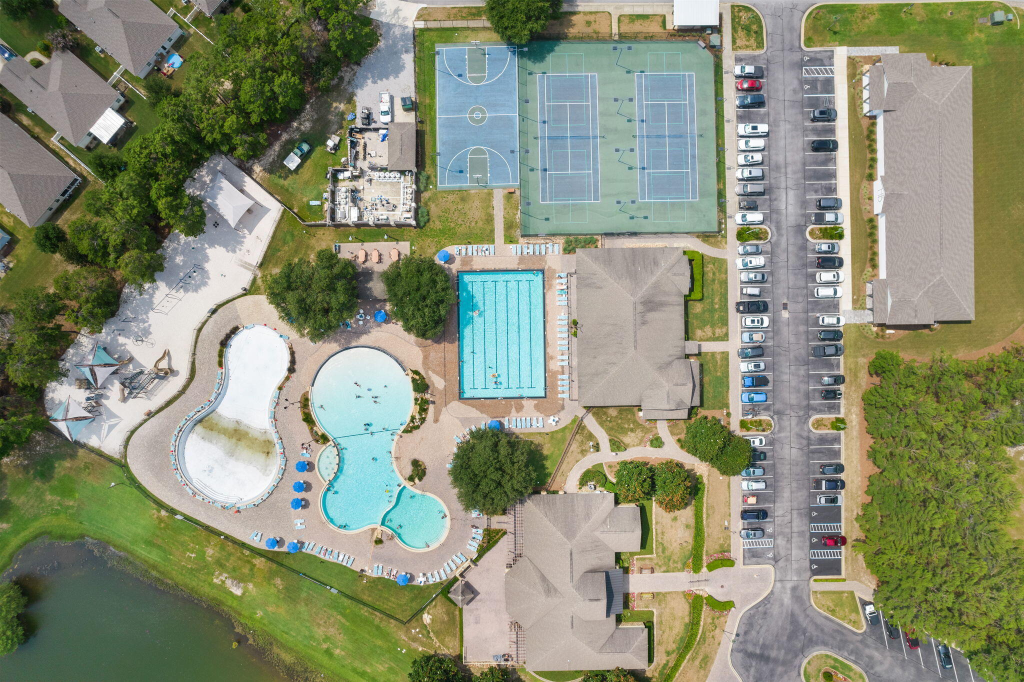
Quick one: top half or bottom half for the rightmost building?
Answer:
top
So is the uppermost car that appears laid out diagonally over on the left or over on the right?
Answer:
left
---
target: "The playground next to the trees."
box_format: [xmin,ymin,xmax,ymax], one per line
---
[44,154,282,457]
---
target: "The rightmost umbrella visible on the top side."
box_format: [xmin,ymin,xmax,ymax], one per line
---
[437,250,450,263]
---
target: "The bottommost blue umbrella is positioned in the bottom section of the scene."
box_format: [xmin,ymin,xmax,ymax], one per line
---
[396,571,410,585]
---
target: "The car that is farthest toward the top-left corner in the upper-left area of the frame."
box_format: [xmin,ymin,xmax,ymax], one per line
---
[0,41,21,62]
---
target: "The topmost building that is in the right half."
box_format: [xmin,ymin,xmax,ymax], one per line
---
[671,0,719,33]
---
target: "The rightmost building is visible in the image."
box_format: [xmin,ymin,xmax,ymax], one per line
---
[861,52,975,324]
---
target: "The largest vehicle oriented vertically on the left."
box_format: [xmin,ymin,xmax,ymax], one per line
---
[379,91,391,124]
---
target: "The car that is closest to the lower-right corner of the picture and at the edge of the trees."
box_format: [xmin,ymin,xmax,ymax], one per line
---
[934,641,953,670]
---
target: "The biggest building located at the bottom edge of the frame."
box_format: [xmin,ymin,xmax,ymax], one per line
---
[505,493,648,671]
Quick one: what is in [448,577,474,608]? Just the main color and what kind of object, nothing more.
gray gazebo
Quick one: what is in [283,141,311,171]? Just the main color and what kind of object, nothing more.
white truck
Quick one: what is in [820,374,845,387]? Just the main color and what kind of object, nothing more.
gray vehicle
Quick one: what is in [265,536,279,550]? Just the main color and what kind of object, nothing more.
blue umbrella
